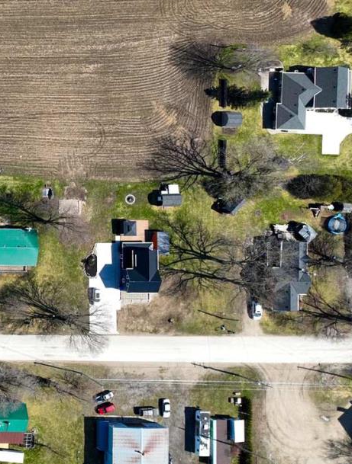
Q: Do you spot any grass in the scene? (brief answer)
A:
Yes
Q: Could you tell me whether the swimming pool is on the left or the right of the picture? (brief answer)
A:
right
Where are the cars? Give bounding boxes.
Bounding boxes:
[161,398,172,417]
[92,286,101,305]
[95,403,116,415]
[97,390,113,403]
[252,301,261,320]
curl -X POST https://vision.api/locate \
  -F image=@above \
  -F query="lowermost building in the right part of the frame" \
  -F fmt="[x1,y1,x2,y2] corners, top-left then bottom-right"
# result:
[206,417,239,464]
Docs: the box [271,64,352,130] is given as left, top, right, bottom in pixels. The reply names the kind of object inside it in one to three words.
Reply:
building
